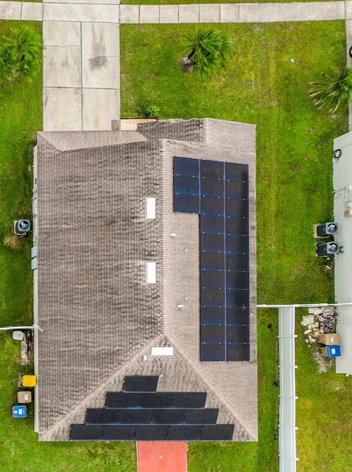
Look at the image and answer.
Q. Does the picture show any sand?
No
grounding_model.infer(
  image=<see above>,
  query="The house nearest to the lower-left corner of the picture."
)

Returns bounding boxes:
[30,118,258,442]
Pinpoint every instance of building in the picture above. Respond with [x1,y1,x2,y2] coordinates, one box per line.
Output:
[335,134,352,375]
[30,118,258,442]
